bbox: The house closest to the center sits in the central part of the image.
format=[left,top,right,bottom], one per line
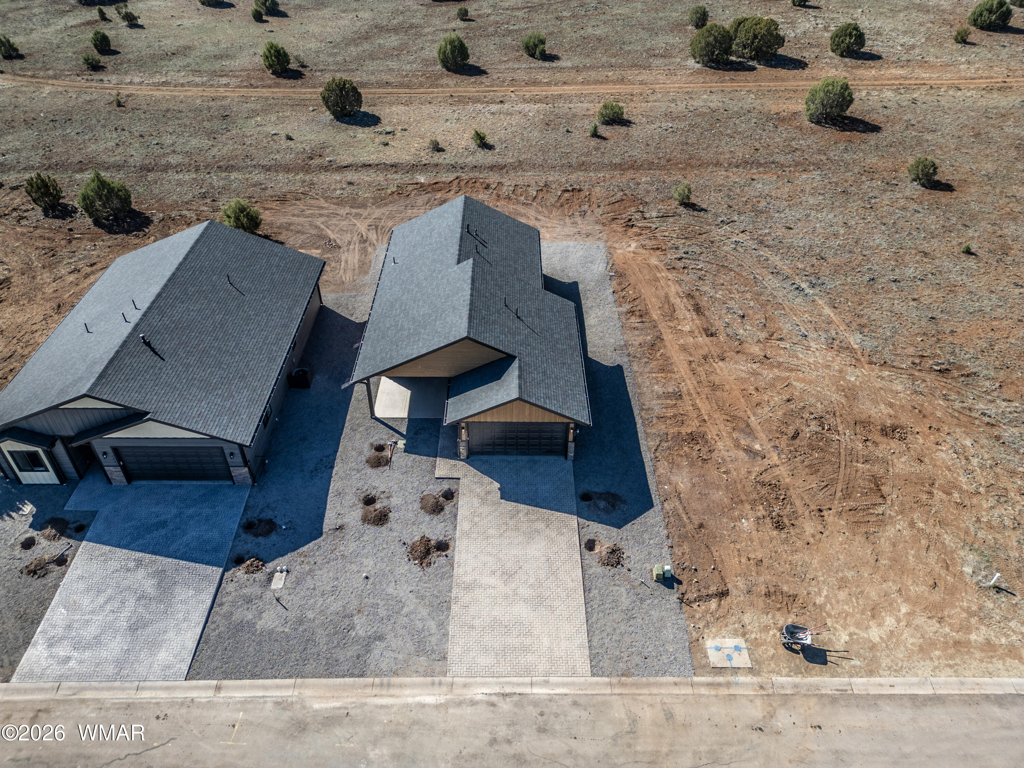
[348,196,595,460]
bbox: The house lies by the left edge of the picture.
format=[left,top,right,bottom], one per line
[0,220,327,485]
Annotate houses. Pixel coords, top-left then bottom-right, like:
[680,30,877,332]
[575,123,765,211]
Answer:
[0,220,327,485]
[348,196,595,460]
